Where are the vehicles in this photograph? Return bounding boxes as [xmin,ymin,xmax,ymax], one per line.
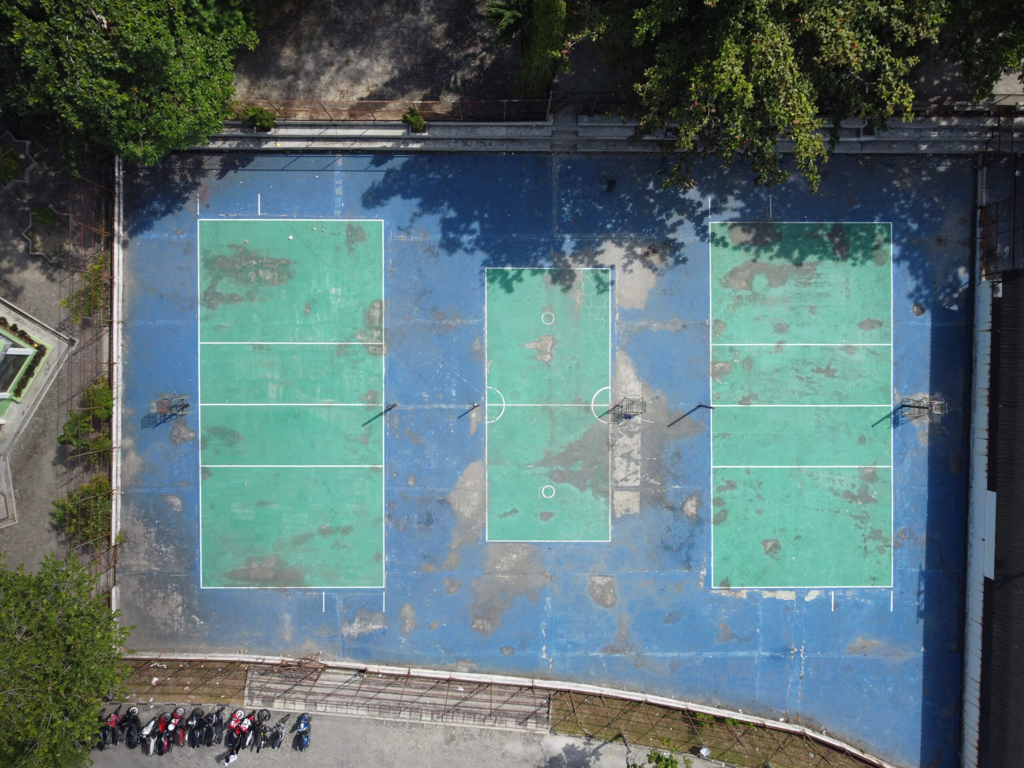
[270,710,292,753]
[162,706,185,753]
[180,707,202,754]
[234,708,256,754]
[146,711,170,758]
[133,713,157,760]
[220,708,244,754]
[290,711,310,759]
[104,704,124,751]
[115,705,139,752]
[247,709,269,755]
[200,706,223,751]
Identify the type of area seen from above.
sports ground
